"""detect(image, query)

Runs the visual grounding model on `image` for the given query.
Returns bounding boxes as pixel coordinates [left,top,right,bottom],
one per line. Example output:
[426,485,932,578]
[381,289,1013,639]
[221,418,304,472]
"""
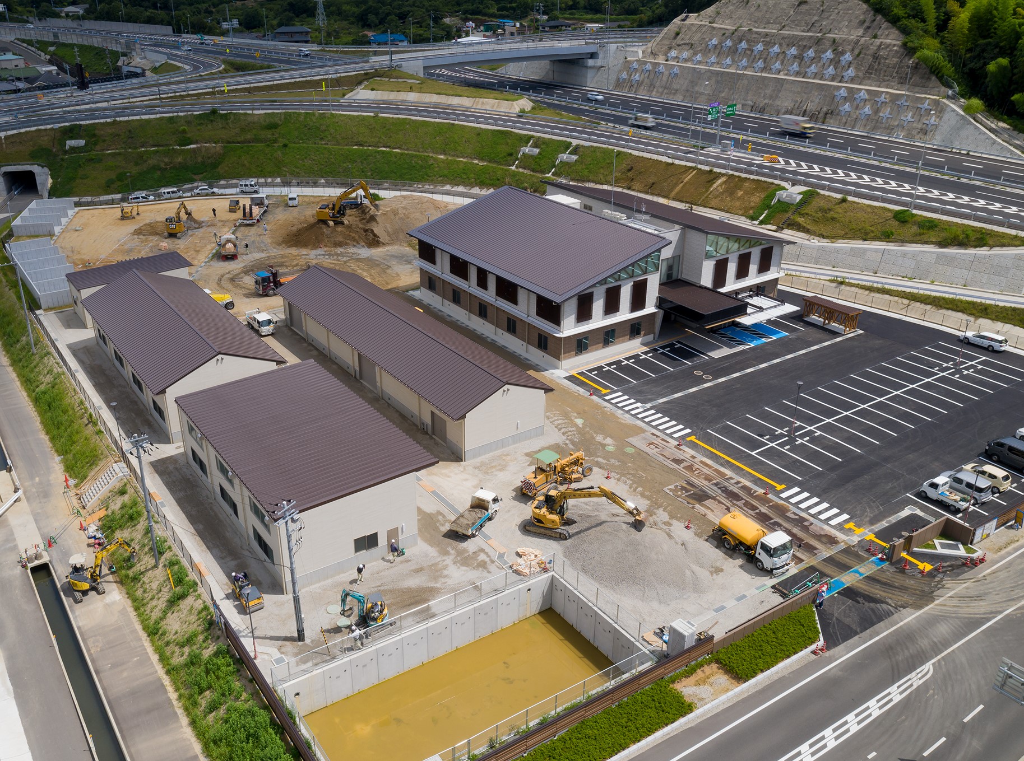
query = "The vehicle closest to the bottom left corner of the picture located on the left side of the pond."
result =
[58,537,141,602]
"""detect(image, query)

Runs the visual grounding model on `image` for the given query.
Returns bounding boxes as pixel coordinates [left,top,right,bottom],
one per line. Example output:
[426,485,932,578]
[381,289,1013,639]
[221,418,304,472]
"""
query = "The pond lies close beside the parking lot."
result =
[277,565,669,761]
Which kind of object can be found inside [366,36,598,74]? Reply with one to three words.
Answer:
bridge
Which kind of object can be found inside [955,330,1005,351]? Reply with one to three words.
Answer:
car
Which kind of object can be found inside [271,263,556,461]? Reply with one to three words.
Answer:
shed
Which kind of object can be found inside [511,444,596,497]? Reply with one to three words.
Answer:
work vehicle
